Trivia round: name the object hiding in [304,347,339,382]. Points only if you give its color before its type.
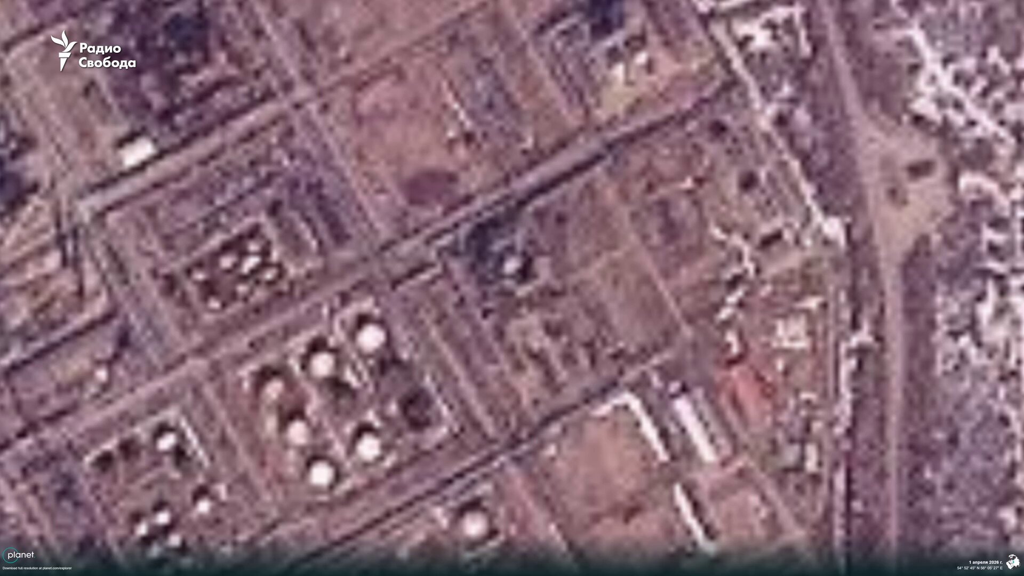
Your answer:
white storage tank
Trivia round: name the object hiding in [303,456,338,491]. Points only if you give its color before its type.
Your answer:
white storage tank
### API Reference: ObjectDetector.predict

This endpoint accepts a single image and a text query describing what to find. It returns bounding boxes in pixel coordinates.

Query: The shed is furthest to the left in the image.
[120,138,154,166]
